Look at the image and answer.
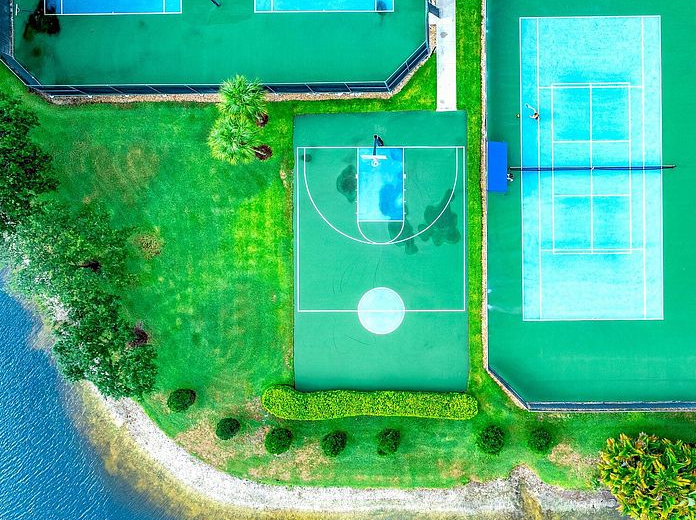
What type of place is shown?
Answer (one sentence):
This looks like a sports ground.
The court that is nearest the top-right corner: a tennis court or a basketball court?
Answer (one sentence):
The court that is nearest the top-right corner can be classified as a tennis court.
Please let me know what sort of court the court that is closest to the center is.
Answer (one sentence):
In the photo, the court that is closest to the center shows up as a basketball court.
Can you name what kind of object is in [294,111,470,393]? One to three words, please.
basketball court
